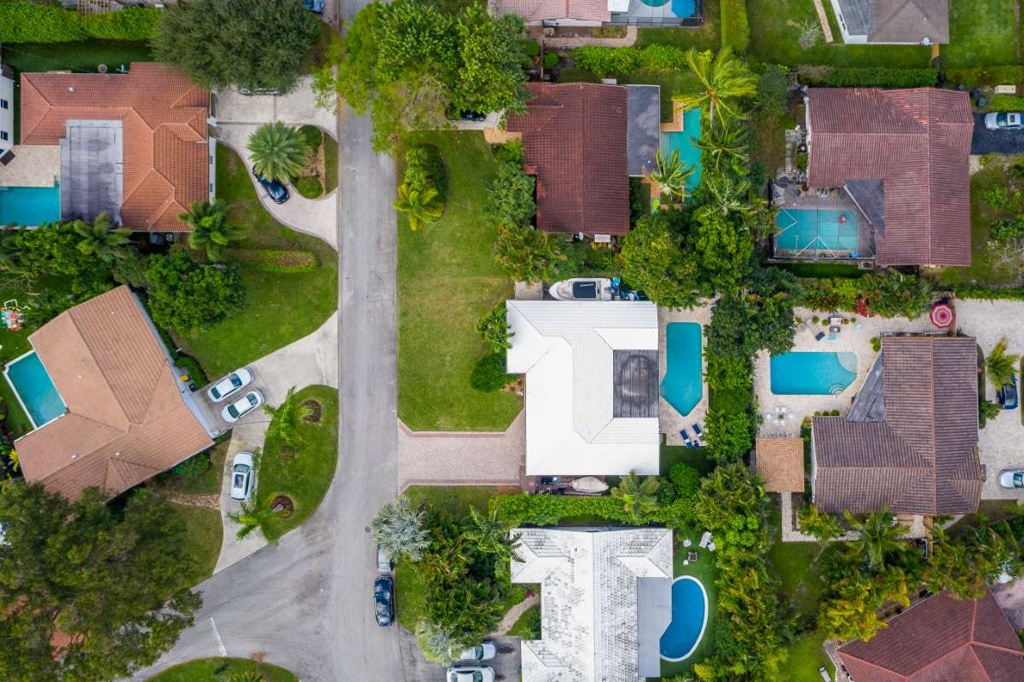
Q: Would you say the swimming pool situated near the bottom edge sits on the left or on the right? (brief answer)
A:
right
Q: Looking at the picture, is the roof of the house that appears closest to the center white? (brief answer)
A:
Yes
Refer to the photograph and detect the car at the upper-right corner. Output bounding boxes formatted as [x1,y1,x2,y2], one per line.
[981,109,1024,133]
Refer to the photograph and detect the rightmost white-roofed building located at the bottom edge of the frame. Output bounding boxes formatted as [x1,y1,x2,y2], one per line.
[509,526,673,682]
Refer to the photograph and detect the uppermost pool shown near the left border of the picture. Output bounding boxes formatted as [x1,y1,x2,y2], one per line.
[0,179,59,227]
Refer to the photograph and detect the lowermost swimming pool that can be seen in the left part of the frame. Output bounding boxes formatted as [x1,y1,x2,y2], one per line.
[3,350,66,428]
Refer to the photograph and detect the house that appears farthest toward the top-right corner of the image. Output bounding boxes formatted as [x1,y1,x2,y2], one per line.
[833,0,950,48]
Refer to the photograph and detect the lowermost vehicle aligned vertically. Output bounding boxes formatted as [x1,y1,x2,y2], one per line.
[372,575,395,627]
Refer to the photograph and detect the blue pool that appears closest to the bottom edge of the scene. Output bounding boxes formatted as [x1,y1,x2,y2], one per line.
[660,574,710,663]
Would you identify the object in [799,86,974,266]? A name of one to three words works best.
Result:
house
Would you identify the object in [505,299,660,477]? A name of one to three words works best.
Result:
house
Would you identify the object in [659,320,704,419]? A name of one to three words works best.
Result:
swimming pool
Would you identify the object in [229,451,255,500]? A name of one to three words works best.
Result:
car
